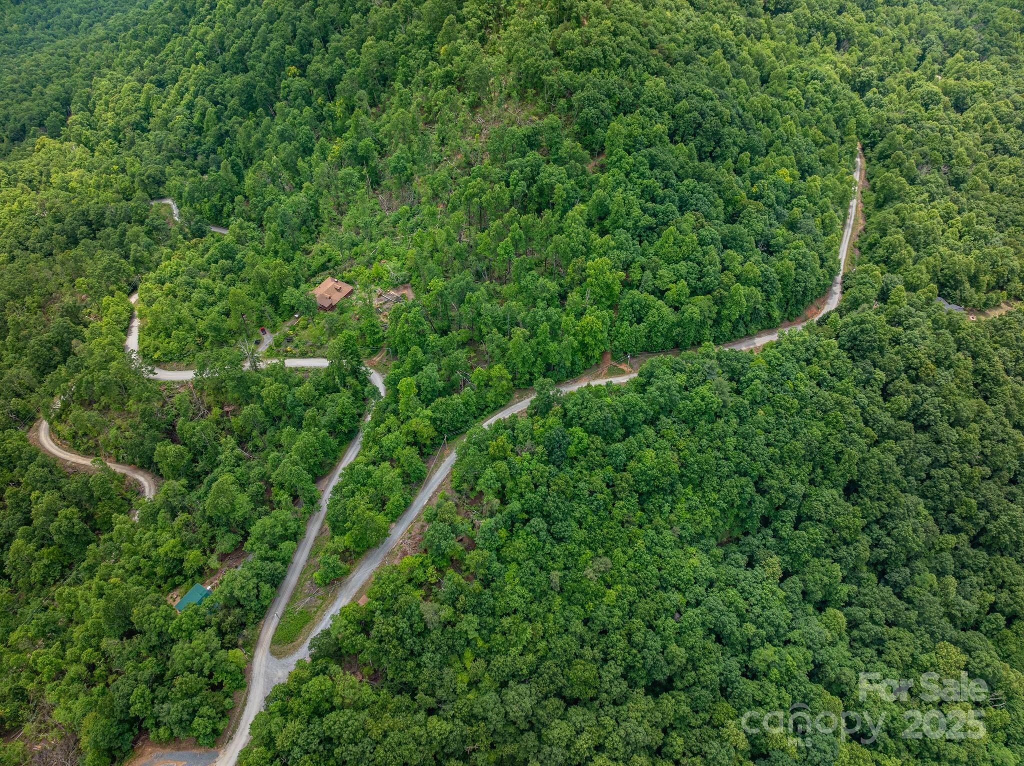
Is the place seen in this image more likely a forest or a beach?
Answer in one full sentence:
What you see here is a forest.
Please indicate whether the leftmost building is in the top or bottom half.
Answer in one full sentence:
Seen from above, the leftmost building lies in the bottom half of the view.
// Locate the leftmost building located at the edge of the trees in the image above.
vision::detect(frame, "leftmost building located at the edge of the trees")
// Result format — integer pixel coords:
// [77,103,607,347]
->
[172,583,219,618]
